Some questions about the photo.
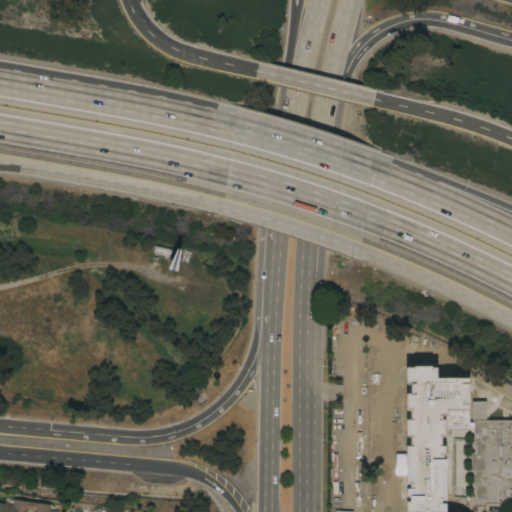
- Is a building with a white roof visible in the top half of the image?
No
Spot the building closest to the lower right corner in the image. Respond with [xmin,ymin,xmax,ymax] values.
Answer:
[473,421,512,508]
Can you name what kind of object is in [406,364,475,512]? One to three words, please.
building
